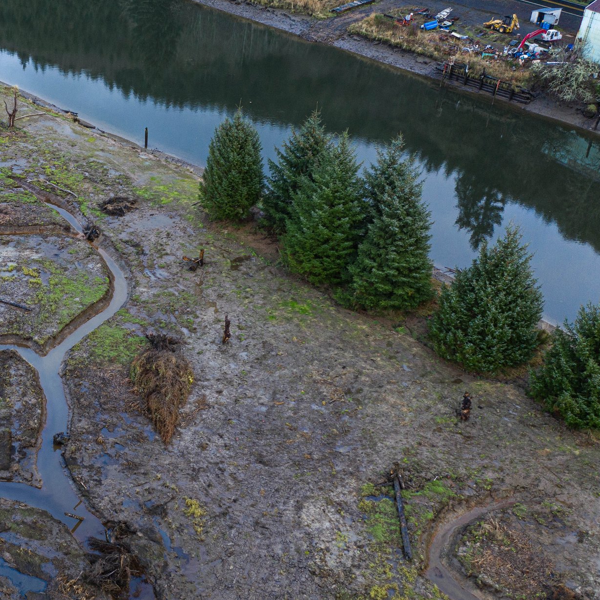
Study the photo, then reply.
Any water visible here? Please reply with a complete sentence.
Yes, there is water in the image.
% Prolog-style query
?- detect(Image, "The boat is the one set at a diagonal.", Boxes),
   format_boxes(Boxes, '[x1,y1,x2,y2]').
[434,4,452,18]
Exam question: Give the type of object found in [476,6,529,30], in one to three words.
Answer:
work vehicle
